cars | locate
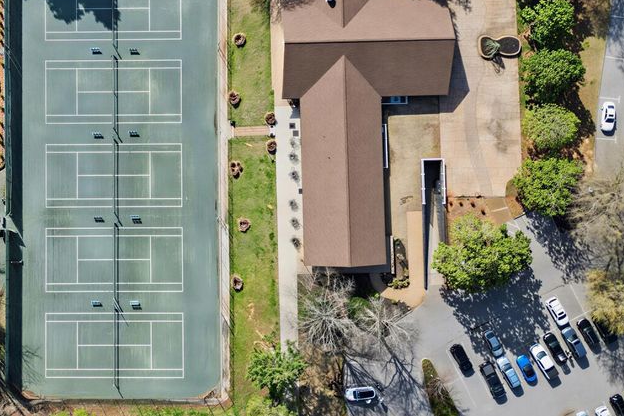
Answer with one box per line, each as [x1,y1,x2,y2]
[607,391,624,416]
[592,318,614,347]
[560,325,587,360]
[482,328,504,356]
[478,361,504,396]
[515,354,537,381]
[543,332,567,361]
[576,320,600,349]
[530,343,556,378]
[450,342,472,372]
[545,297,567,326]
[497,357,520,386]
[346,387,375,401]
[599,103,615,132]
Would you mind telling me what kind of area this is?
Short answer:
sports ground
